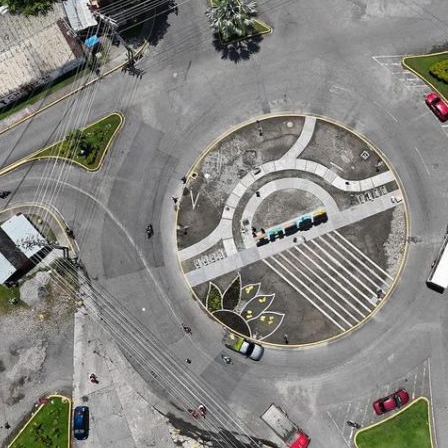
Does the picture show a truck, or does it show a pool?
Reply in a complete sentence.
It is a truck that can be seen here.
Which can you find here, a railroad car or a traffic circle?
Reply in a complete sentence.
The one in the frame is a traffic circle.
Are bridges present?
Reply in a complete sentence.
No, the photo shows no bridge.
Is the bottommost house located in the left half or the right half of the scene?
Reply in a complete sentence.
The bottommost house sits on the left side.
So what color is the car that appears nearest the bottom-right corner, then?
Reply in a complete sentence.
The car that appears nearest the bottom-right corner is red.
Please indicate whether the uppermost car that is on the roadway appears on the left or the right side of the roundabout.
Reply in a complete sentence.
The uppermost car that is on the roadway appears to the right of the roundabout in this view.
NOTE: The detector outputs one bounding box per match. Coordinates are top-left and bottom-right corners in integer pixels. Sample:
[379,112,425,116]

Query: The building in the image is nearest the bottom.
[0,214,58,284]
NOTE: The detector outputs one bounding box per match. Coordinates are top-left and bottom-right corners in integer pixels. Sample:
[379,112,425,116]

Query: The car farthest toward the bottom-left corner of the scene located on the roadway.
[72,404,90,440]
